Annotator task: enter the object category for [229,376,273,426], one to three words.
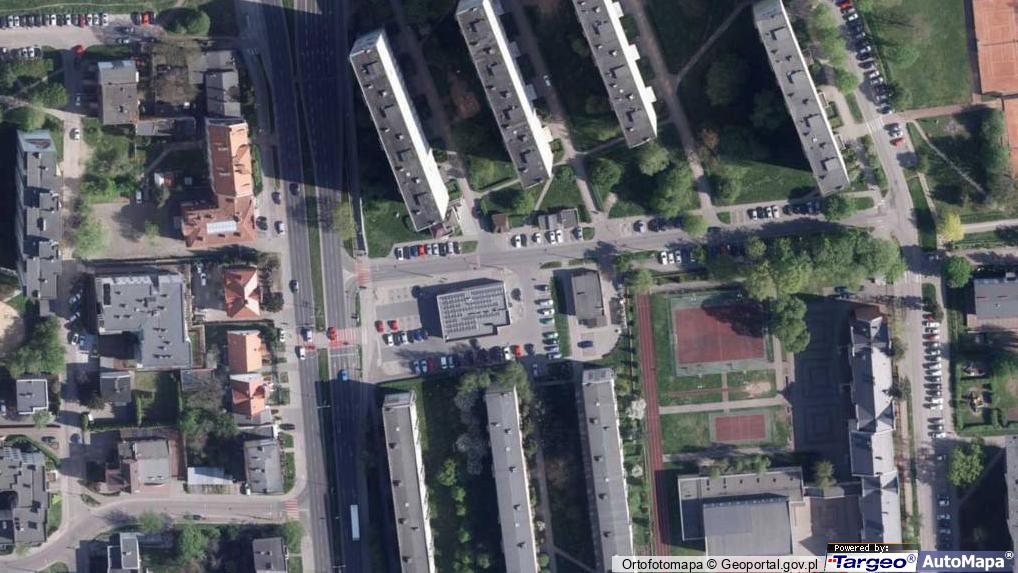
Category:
house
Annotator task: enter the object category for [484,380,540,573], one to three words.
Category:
building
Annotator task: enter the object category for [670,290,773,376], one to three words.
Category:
sports court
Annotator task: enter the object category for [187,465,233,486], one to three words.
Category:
shed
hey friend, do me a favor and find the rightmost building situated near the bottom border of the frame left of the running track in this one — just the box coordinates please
[582,368,638,573]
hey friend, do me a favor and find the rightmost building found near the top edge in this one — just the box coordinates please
[754,0,848,196]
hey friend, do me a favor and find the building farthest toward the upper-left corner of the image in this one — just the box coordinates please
[97,60,140,125]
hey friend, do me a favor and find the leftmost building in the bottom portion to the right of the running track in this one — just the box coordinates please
[680,464,803,573]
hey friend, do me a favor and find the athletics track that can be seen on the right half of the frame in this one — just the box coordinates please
[636,293,670,573]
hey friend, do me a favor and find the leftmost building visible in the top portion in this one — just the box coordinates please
[19,139,71,316]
